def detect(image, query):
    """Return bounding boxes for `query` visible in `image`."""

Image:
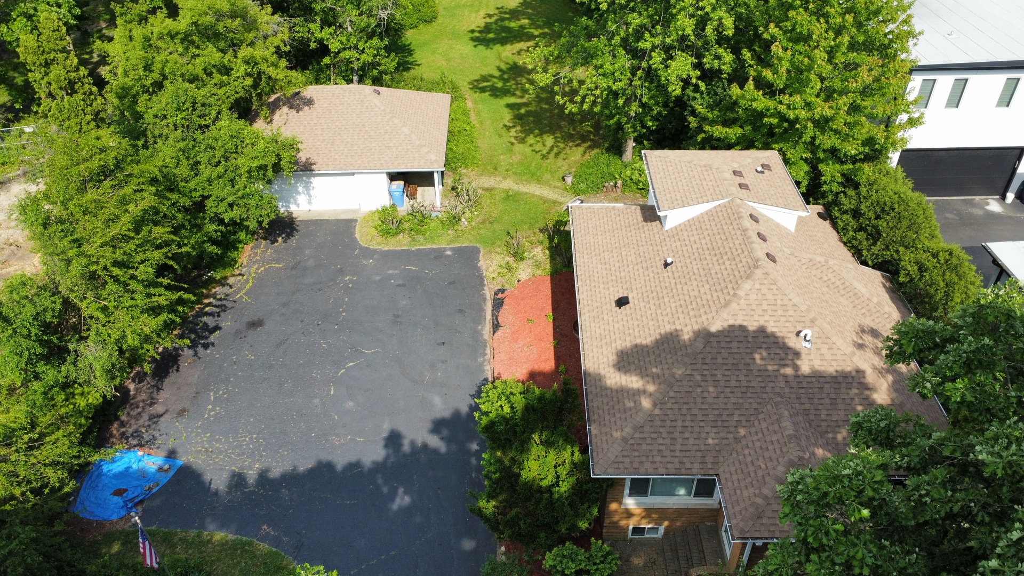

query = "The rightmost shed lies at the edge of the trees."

[981,244,1024,339]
